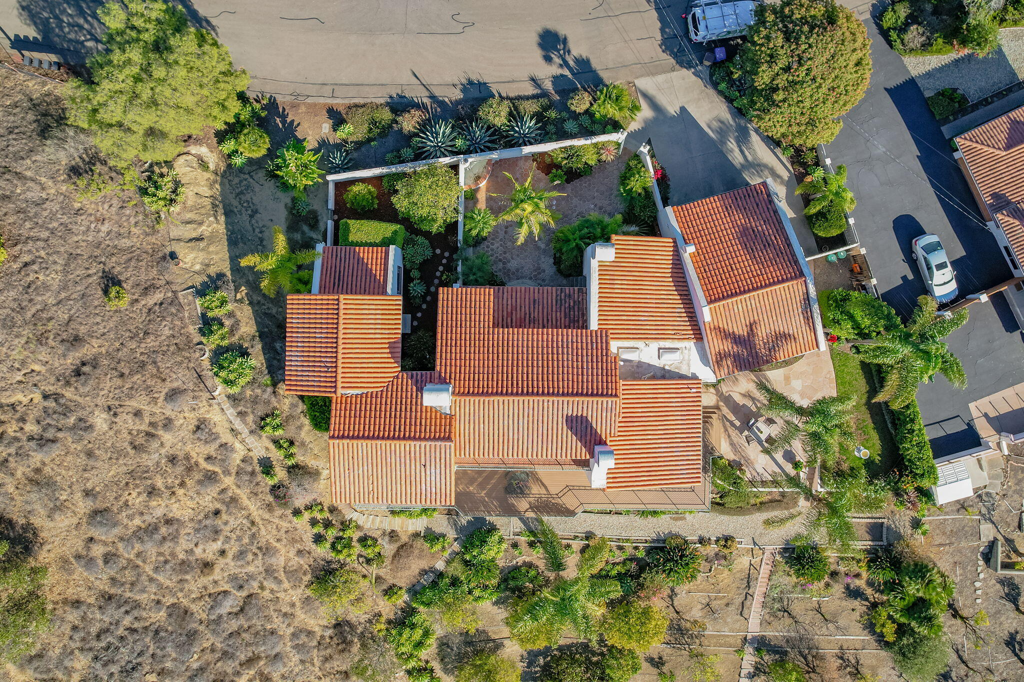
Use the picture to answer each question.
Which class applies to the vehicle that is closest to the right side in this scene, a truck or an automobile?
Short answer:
automobile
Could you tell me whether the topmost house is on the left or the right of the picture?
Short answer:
right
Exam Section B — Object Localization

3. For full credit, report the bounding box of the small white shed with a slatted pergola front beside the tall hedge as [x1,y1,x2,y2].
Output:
[926,457,973,506]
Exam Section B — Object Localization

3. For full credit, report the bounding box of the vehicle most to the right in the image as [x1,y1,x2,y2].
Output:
[906,230,959,307]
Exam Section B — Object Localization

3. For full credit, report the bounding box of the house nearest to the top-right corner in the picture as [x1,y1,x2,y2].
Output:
[943,105,1024,276]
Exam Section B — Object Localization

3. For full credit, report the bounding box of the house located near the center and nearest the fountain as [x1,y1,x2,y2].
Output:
[284,179,826,522]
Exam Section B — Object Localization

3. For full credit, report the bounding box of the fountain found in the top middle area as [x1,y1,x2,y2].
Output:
[465,164,491,187]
